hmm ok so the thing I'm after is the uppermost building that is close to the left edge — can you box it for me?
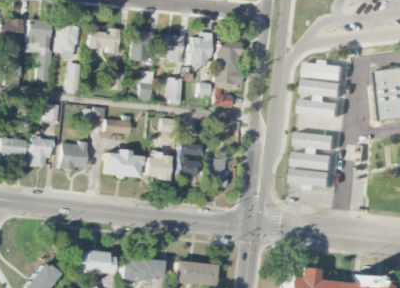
[0,17,25,40]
